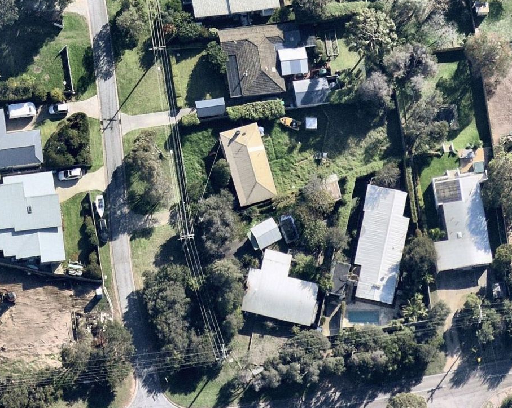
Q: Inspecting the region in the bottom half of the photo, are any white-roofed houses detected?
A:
Yes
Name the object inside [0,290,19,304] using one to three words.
work vehicle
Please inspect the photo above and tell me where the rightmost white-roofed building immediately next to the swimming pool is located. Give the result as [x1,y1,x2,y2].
[331,184,409,304]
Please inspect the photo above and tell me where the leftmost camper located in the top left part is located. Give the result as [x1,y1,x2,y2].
[8,103,40,117]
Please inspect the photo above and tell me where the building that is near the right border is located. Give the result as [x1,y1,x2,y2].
[432,148,493,274]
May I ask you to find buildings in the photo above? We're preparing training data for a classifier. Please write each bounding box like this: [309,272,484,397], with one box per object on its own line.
[242,249,323,326]
[292,77,329,109]
[182,0,279,25]
[331,184,409,304]
[328,173,342,203]
[196,97,226,119]
[250,218,282,251]
[219,123,276,207]
[0,171,67,265]
[432,148,493,274]
[219,22,316,104]
[0,108,44,170]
